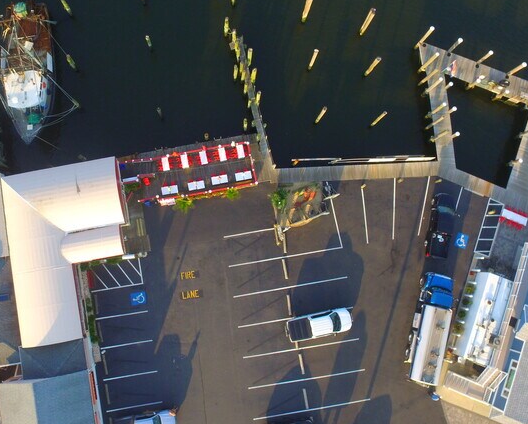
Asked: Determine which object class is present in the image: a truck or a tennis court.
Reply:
truck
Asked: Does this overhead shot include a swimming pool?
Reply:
No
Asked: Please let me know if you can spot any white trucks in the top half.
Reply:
No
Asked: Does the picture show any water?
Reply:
Yes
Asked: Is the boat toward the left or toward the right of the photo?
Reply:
left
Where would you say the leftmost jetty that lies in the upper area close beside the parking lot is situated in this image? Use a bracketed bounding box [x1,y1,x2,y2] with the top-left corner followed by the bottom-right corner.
[237,36,274,168]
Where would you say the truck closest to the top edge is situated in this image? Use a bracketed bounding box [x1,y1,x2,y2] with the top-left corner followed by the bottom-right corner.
[429,194,464,261]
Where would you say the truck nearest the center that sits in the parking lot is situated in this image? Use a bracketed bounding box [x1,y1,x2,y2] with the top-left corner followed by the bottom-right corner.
[285,309,353,344]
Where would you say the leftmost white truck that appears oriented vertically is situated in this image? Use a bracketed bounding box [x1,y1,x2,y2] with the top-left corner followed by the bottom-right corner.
[407,272,458,384]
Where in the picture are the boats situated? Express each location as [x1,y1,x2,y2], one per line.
[0,5,59,144]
